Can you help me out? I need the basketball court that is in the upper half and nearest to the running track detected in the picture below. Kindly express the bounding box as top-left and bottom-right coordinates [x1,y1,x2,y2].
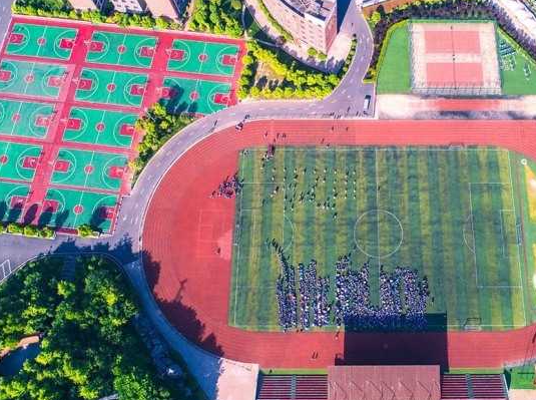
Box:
[157,76,231,116]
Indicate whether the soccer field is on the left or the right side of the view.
right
